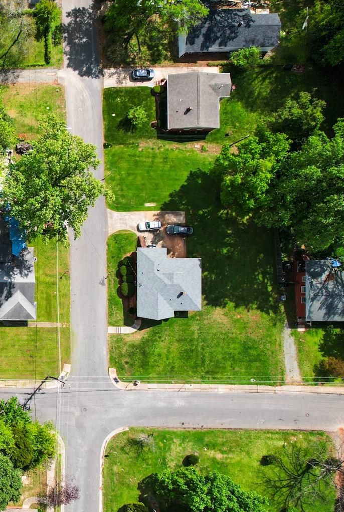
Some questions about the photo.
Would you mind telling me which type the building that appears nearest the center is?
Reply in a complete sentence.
In the photo, the building that appears nearest the center shows up as a house.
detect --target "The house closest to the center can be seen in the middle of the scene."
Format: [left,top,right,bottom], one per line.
[131,233,202,319]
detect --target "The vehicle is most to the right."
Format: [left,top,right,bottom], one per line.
[164,223,194,236]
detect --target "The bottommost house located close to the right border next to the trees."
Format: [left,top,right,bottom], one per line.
[284,260,344,325]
